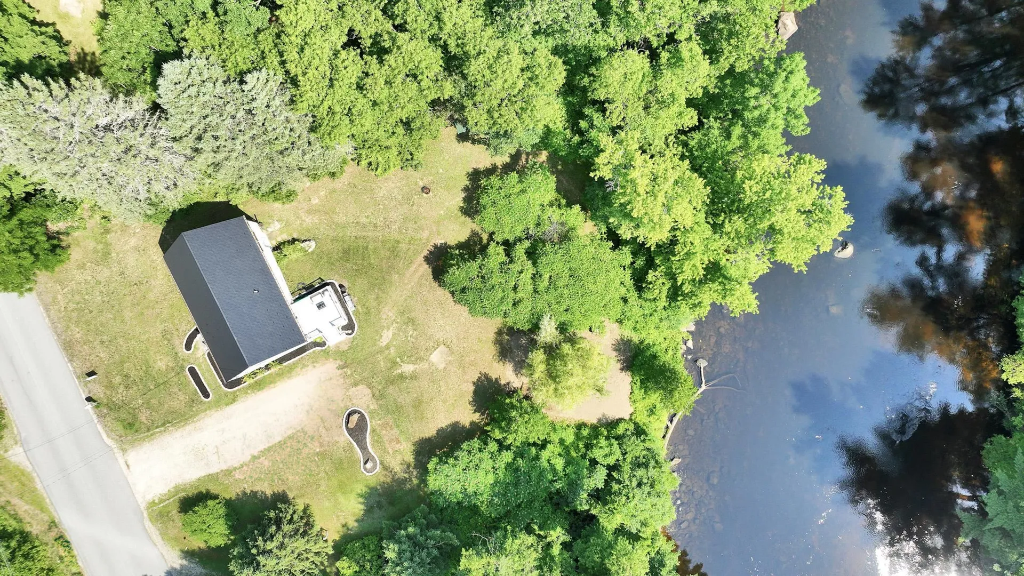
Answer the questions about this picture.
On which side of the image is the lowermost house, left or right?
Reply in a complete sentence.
You can find the lowermost house on the left side of the picture.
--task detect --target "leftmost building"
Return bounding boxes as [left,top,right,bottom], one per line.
[161,215,315,382]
